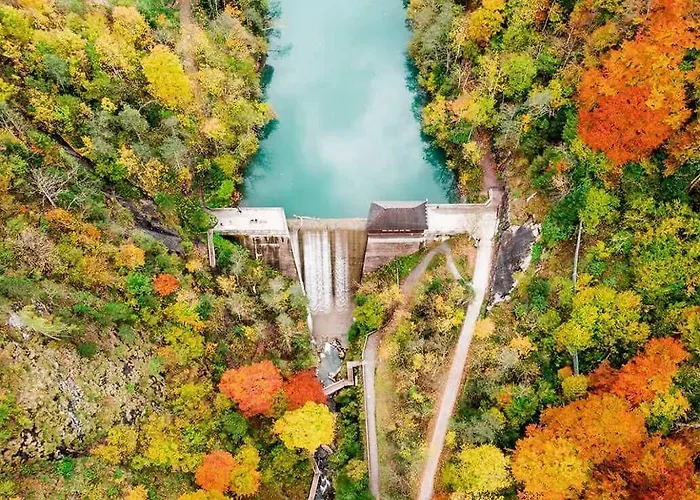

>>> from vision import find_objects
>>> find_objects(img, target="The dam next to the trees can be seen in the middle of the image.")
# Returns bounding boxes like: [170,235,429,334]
[208,186,489,350]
